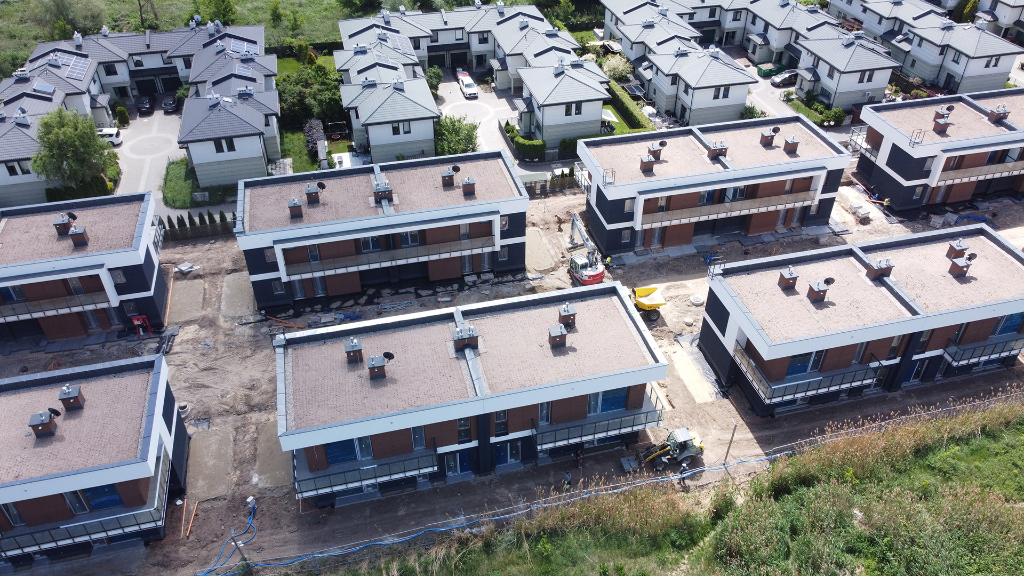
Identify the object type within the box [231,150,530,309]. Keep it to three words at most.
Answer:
house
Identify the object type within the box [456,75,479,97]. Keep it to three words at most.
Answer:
car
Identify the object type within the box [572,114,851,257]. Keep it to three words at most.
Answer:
house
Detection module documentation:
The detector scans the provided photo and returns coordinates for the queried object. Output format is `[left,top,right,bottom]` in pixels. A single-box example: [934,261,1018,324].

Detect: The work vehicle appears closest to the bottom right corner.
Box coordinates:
[639,424,705,472]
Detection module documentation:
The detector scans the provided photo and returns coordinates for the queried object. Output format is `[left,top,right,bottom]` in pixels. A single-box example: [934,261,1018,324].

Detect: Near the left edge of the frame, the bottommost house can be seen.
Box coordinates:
[0,355,190,576]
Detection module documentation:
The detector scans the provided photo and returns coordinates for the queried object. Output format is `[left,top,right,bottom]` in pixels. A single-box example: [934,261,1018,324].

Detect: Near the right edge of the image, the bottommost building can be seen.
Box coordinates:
[697,225,1024,420]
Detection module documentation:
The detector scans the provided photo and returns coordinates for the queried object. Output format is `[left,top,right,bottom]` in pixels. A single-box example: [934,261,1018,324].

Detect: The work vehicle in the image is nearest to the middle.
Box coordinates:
[559,222,608,288]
